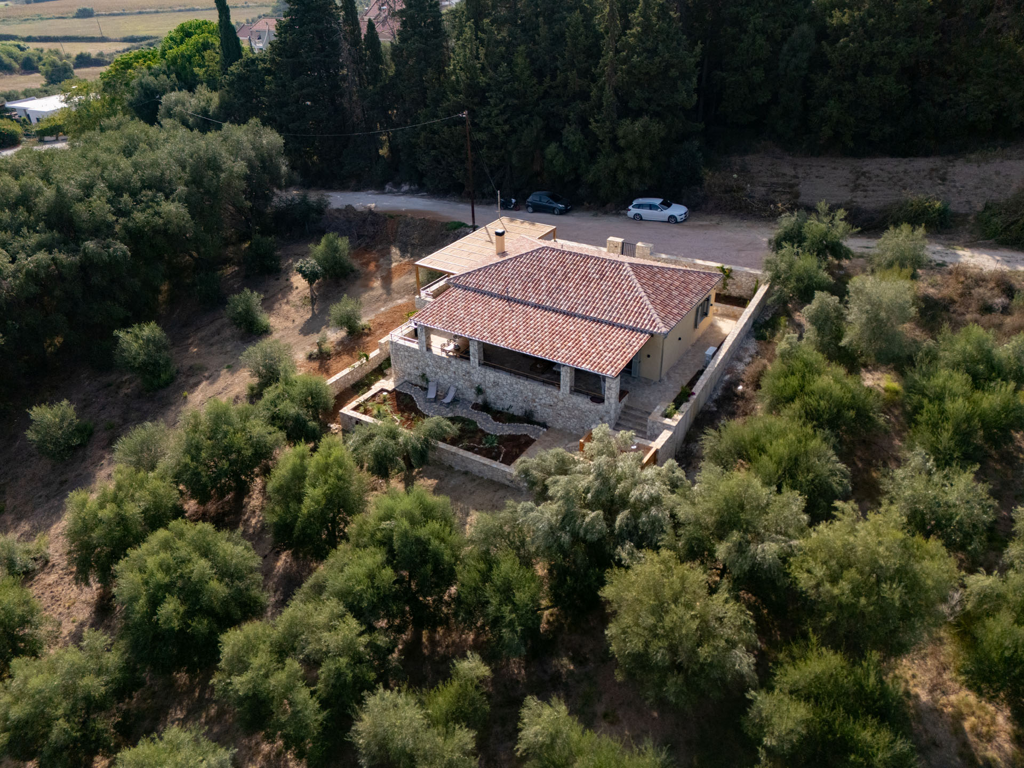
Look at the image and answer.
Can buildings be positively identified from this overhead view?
Yes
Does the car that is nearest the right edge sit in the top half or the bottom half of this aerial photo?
top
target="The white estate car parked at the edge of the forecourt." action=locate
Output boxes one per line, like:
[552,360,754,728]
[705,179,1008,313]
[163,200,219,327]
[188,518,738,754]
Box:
[627,198,687,223]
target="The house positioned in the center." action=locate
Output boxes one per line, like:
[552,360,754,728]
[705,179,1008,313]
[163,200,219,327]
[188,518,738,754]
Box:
[409,231,723,409]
